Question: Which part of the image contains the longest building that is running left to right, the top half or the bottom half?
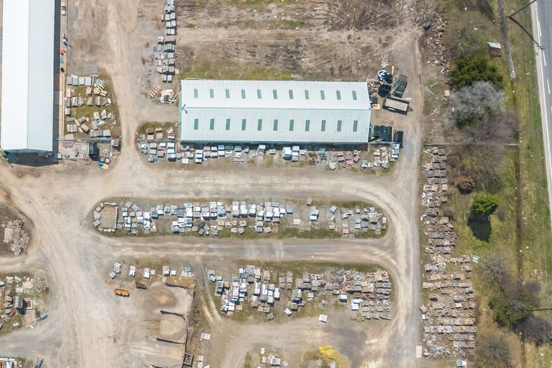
top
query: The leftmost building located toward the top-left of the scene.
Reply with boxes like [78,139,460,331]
[4,0,56,153]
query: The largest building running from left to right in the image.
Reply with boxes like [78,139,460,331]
[178,80,374,145]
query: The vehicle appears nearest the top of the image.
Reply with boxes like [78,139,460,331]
[389,71,407,99]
